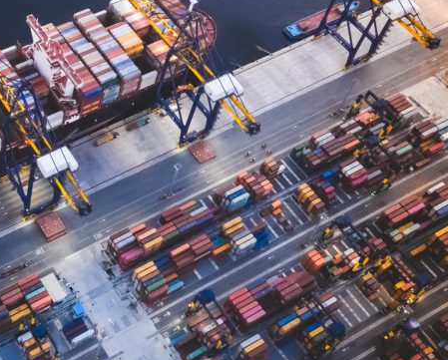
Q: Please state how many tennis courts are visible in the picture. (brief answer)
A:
zero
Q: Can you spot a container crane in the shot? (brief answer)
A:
Yes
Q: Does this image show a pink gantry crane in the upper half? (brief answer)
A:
No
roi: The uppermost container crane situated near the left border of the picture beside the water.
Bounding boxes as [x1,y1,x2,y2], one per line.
[0,57,98,220]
